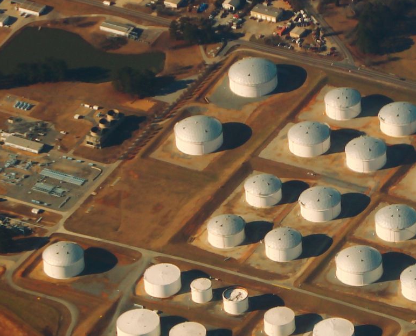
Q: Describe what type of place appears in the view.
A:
industrial area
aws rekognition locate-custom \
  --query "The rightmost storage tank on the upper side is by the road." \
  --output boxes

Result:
[377,101,416,137]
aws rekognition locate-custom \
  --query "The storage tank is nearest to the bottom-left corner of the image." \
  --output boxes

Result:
[39,241,86,281]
